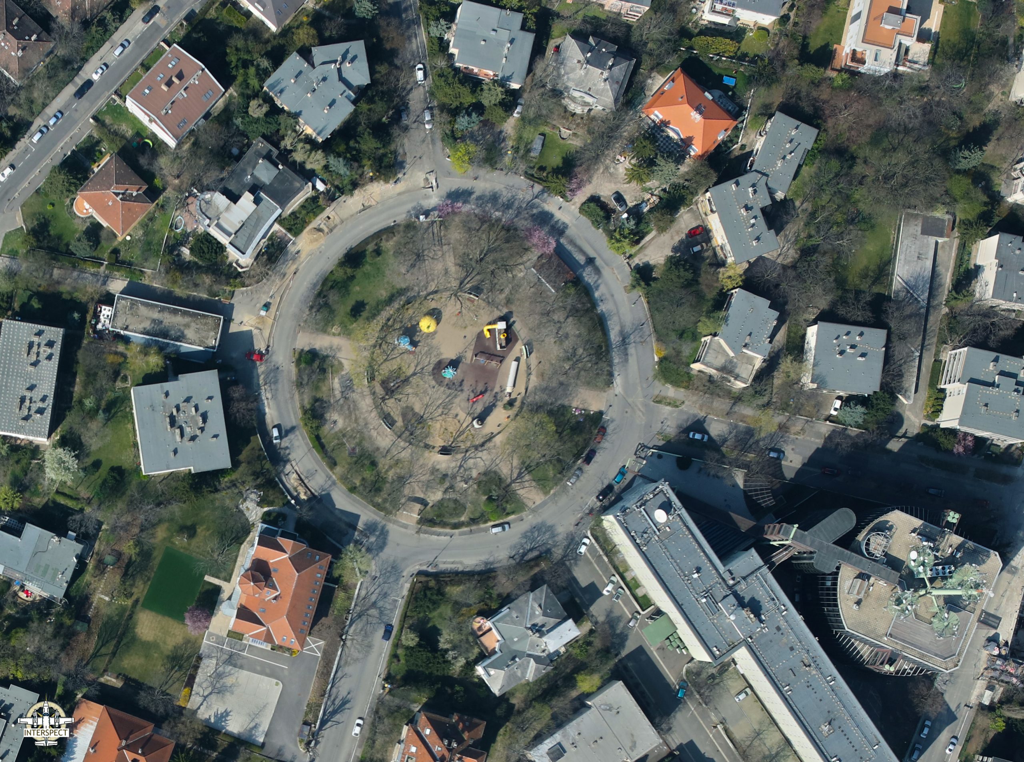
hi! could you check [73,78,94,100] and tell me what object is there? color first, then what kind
black car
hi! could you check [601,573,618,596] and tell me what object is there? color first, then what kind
white car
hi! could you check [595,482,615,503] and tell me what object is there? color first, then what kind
black car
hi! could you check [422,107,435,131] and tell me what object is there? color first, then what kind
gray vehicle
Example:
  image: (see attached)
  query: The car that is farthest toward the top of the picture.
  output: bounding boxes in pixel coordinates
[140,4,161,26]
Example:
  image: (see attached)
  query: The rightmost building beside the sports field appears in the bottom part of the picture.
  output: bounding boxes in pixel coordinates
[222,523,332,651]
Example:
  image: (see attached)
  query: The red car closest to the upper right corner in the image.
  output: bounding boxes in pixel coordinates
[685,225,706,238]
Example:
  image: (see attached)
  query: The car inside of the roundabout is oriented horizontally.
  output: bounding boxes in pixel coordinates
[488,522,512,535]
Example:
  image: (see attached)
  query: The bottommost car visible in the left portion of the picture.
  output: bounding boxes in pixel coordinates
[351,715,365,739]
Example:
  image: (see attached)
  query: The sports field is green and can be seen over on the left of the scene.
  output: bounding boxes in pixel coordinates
[141,546,207,624]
